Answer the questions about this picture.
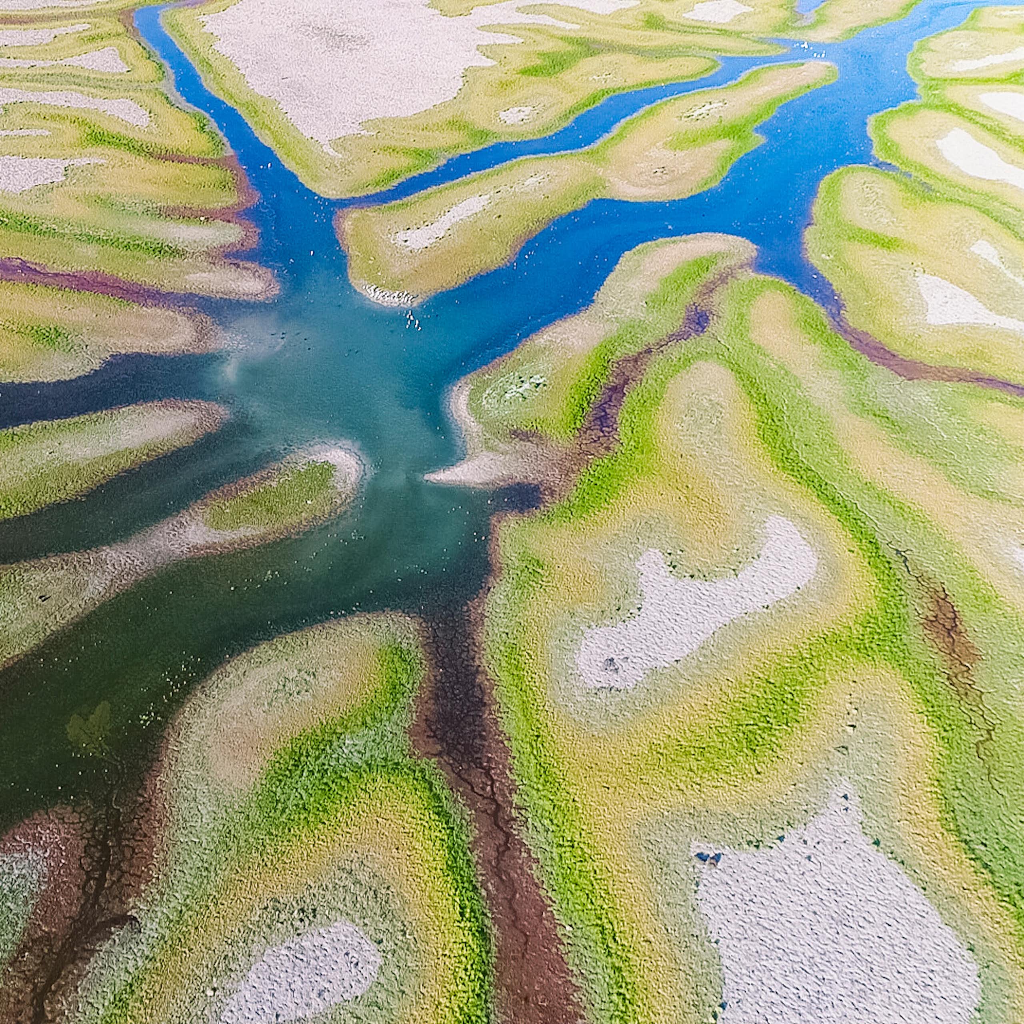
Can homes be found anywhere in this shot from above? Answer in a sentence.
No, there isn't any home down there.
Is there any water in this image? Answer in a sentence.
Yes, water shows up in the scene.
